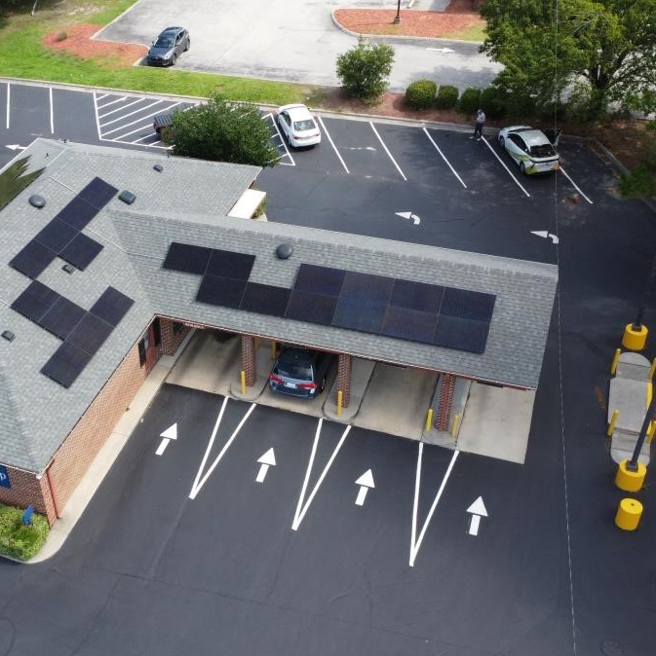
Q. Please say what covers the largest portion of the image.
paved ground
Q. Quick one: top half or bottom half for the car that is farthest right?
top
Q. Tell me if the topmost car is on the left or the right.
left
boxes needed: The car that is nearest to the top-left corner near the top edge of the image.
[148,25,187,61]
